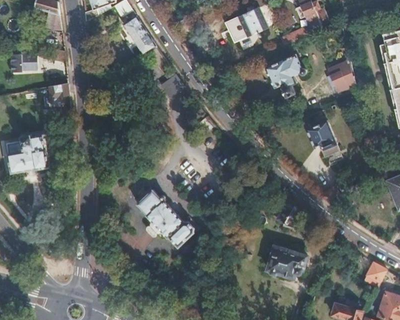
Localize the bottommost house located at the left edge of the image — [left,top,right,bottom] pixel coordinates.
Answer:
[8,135,48,174]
